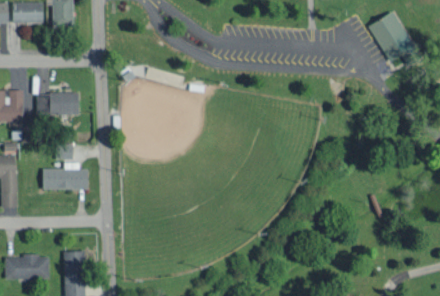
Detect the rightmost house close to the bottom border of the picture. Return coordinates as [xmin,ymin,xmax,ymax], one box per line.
[64,251,86,296]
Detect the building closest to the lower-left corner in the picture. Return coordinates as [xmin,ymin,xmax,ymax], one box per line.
[5,254,49,280]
